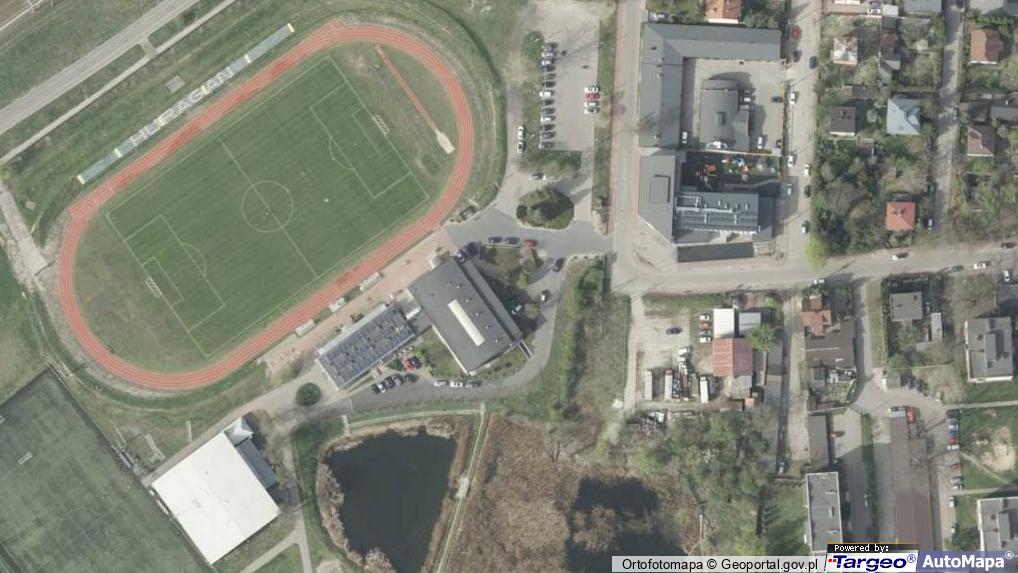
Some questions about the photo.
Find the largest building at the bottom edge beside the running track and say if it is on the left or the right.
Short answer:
left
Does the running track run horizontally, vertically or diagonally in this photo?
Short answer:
diagonally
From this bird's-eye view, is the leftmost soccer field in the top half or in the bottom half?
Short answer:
bottom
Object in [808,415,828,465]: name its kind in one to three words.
building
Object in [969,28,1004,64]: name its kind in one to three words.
house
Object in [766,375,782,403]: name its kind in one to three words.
shed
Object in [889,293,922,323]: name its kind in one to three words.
house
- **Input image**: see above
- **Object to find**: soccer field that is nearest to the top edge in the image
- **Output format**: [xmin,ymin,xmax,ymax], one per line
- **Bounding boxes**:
[101,53,434,362]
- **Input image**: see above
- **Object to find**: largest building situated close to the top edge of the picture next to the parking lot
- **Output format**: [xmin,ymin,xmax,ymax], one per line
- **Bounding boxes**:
[638,22,780,150]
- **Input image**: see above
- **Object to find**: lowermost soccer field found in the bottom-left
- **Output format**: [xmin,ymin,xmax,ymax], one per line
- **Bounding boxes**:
[0,366,207,573]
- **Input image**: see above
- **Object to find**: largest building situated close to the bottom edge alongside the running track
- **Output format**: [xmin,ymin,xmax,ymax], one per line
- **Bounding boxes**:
[152,433,280,565]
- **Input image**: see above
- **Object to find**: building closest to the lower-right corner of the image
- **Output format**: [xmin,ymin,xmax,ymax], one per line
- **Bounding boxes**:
[975,498,1018,568]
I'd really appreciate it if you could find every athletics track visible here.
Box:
[58,18,478,390]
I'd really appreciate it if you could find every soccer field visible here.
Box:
[0,366,207,573]
[101,53,434,362]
